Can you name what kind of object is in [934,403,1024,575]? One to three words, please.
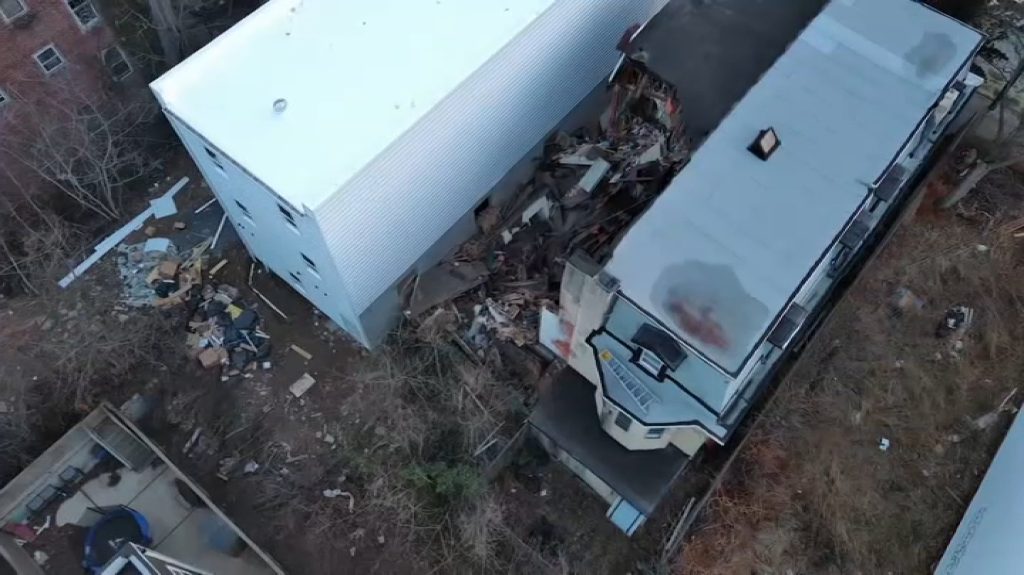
building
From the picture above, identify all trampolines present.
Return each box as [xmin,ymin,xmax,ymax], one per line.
[81,501,157,574]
